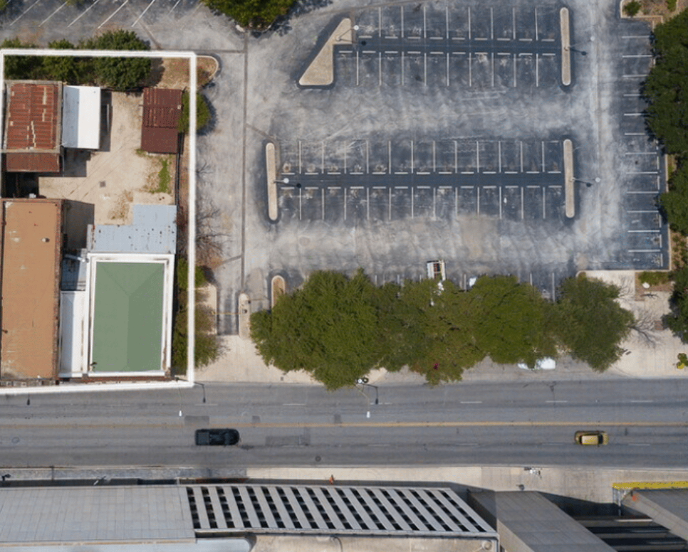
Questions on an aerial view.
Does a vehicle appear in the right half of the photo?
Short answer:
Yes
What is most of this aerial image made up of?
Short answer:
paved ground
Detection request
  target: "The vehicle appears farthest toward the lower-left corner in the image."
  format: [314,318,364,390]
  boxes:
[195,426,239,446]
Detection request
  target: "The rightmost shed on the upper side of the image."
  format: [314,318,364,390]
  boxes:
[141,88,181,154]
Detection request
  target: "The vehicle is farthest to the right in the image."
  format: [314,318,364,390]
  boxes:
[574,430,607,447]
